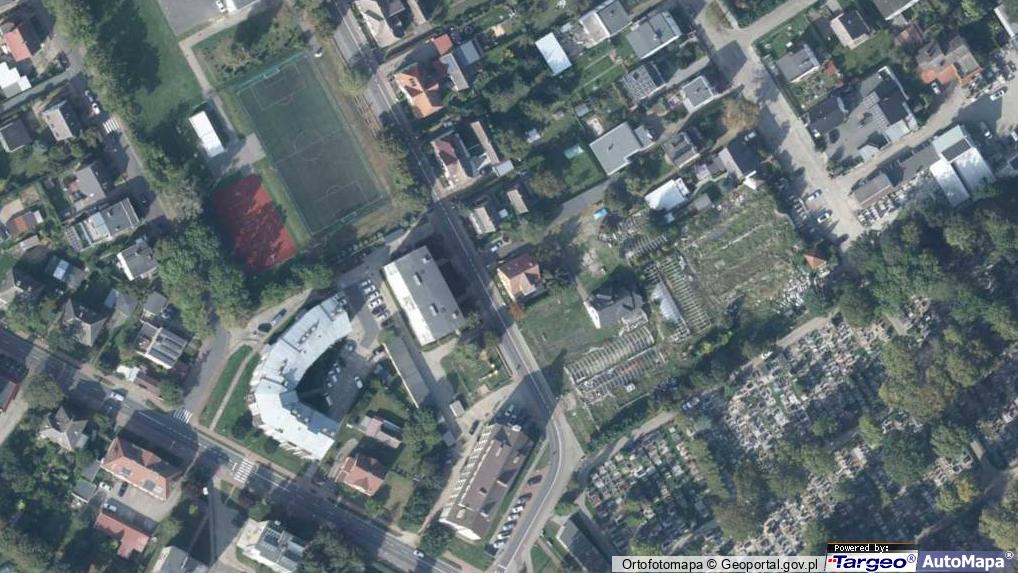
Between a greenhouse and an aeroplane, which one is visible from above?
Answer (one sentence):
Looking from above, you can make out a greenhouse.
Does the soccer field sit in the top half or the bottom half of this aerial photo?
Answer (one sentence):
Seen from above, the soccer field lies in the top half of the view.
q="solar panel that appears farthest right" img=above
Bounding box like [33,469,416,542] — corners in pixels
[864,96,889,125]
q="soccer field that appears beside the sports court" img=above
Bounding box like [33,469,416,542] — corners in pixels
[238,56,389,233]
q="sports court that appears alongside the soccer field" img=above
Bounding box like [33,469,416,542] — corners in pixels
[214,174,297,272]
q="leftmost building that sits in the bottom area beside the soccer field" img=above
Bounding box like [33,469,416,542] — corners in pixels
[244,293,352,469]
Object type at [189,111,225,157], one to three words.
building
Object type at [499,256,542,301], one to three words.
house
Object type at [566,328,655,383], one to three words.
greenhouse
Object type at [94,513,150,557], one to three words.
shed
